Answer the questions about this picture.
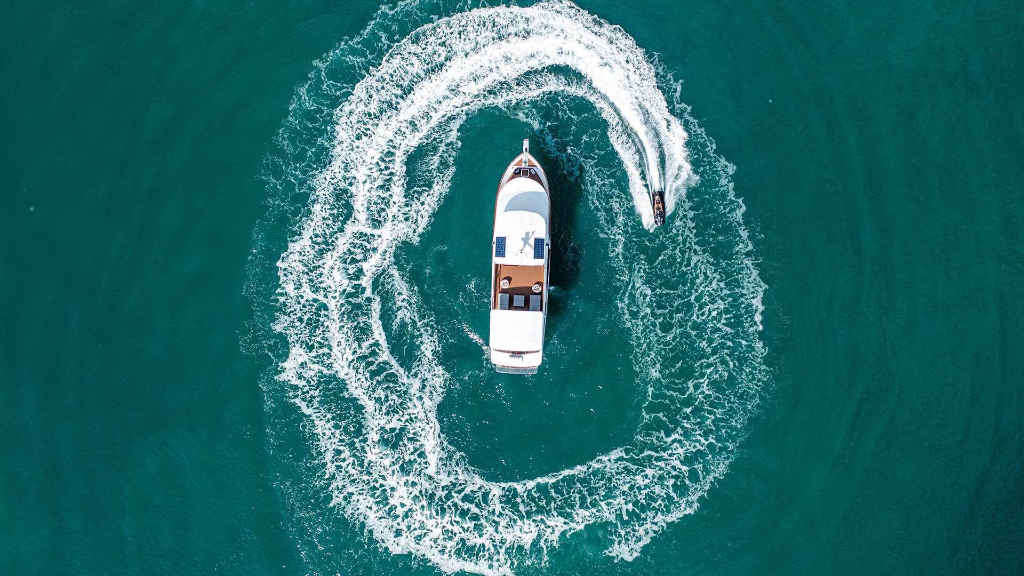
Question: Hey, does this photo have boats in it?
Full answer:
Yes, you can see a boat in this photo.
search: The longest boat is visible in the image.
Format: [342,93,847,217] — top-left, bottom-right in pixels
[490,139,551,374]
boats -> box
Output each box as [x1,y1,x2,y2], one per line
[651,192,665,227]
[490,139,551,374]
